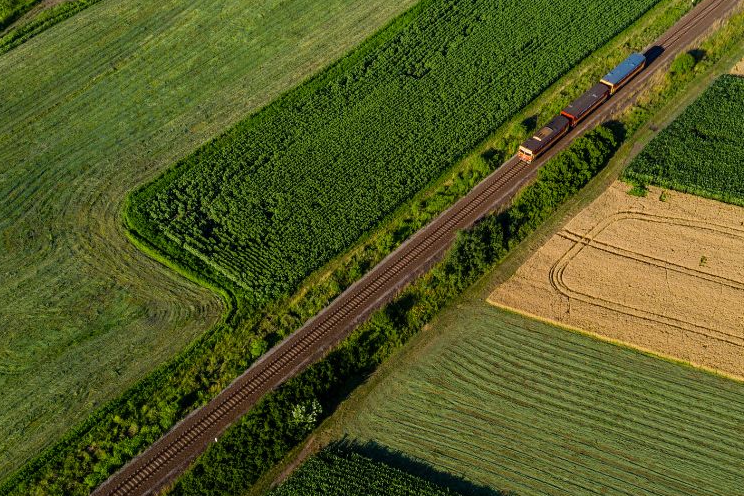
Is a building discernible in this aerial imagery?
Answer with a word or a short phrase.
No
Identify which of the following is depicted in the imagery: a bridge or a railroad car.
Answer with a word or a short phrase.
railroad car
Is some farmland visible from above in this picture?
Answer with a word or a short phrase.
Yes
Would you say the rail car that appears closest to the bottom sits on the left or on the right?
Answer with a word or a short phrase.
right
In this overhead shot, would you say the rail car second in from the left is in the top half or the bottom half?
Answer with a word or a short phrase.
top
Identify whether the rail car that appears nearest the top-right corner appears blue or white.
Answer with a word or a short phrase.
blue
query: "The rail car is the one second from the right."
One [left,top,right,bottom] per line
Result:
[562,81,610,127]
